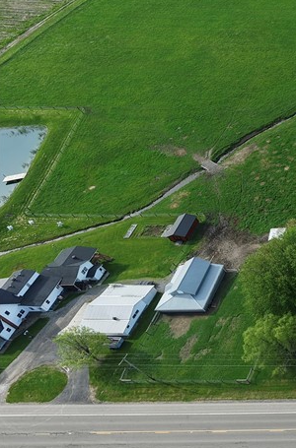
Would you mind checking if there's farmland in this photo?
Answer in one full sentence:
Yes, there is farmland in the image.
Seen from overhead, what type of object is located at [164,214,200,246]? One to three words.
shed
